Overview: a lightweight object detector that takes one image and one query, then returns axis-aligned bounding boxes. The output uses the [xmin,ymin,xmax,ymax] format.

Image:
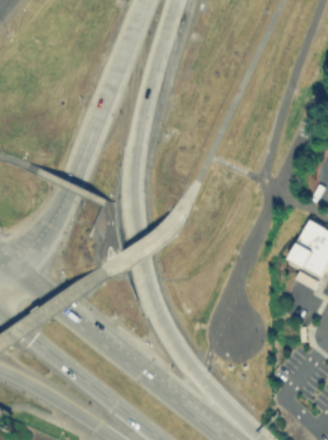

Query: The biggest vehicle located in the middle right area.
[312,183,325,202]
